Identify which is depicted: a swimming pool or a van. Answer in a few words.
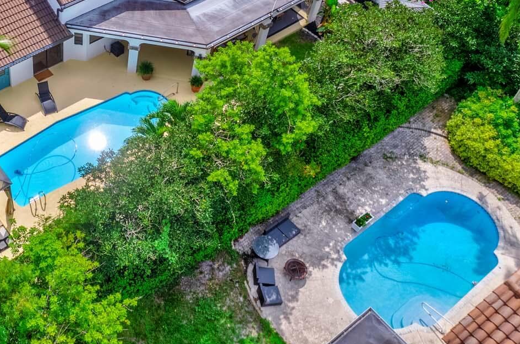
swimming pool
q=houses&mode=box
[434,264,520,344]
[0,0,321,90]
